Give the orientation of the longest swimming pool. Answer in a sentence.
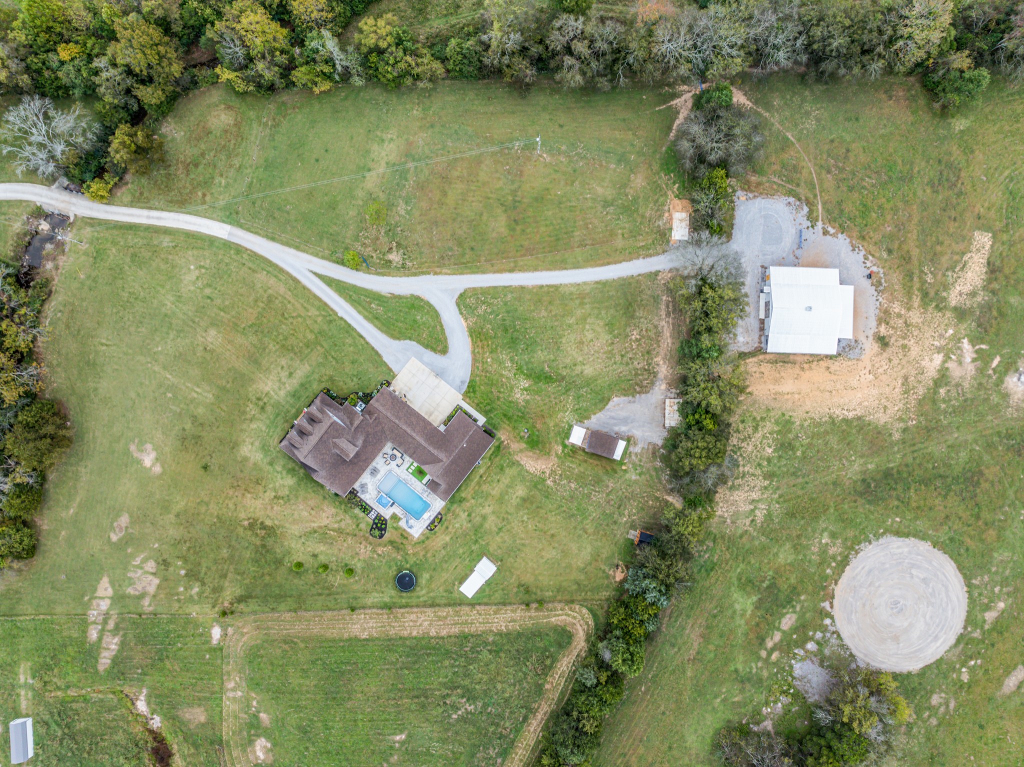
The longest swimming pool is oriented at an angle.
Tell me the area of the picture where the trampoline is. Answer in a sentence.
Look in the bottom portion of the view to spot the trampoline.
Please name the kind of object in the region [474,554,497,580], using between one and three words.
shed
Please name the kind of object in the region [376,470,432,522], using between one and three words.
swimming pool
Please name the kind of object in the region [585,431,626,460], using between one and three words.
shed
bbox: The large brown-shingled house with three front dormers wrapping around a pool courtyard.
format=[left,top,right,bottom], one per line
[279,386,495,502]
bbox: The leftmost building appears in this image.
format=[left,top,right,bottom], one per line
[10,718,34,764]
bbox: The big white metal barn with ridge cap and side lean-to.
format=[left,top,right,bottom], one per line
[767,267,854,354]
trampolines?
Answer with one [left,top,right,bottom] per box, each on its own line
[395,572,416,593]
